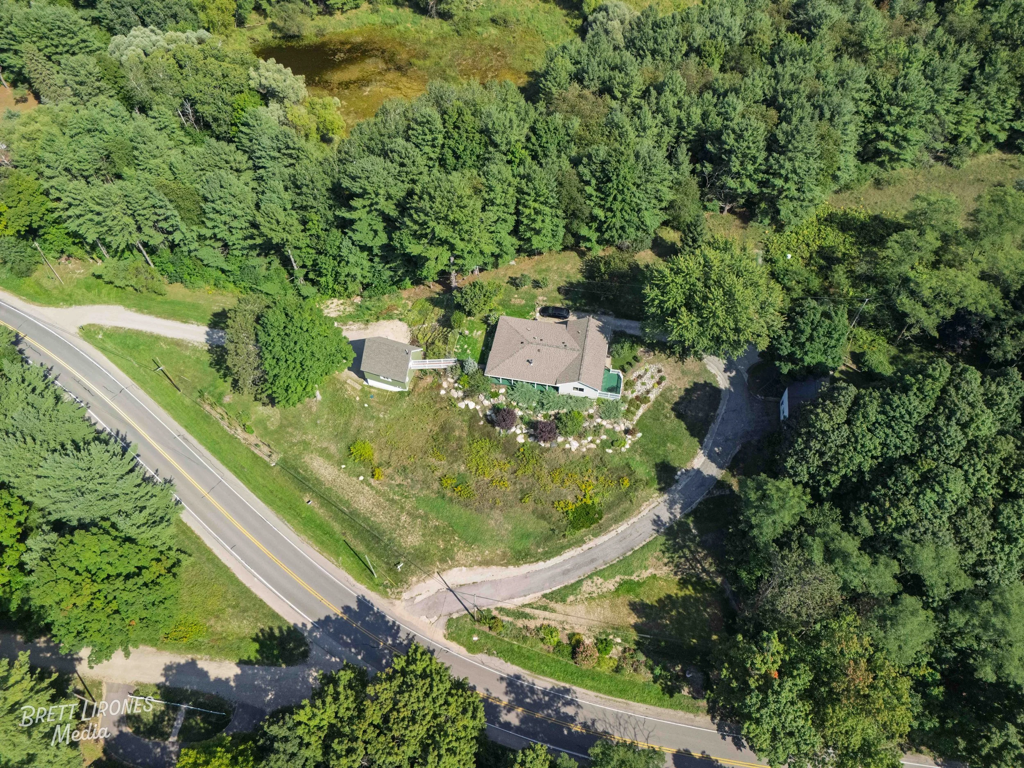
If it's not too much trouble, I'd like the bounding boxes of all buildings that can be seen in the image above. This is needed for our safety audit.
[780,386,843,446]
[484,316,623,400]
[360,336,424,390]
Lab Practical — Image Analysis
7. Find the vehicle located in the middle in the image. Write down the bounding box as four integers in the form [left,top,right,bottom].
[540,306,569,320]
